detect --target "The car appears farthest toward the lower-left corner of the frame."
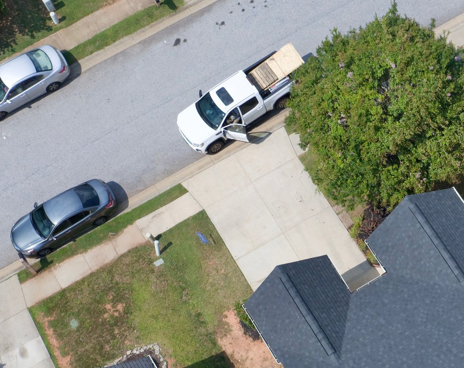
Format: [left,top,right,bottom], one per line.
[6,168,121,259]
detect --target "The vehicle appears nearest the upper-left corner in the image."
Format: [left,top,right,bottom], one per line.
[0,38,73,121]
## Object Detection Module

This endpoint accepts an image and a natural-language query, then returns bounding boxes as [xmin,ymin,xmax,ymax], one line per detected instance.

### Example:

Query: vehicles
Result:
[0,38,73,121]
[6,168,121,259]
[174,46,305,154]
